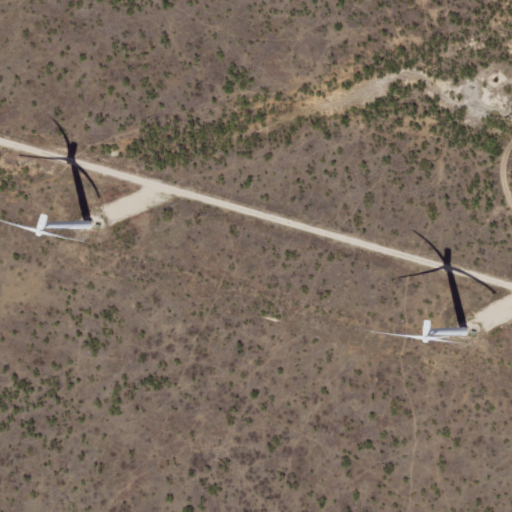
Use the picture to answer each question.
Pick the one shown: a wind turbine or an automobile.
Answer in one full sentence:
There is a wind turbine in the scene.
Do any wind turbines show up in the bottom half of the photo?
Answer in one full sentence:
Yes, a wind turbine can be seen in the bottom half of the photo.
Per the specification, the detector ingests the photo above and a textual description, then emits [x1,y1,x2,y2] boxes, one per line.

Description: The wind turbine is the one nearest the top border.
[0,212,94,238]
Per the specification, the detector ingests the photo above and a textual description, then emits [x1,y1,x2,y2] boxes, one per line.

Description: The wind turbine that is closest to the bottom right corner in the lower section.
[378,321,482,345]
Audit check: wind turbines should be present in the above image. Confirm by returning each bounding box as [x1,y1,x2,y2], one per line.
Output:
[0,212,94,238]
[378,321,482,345]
